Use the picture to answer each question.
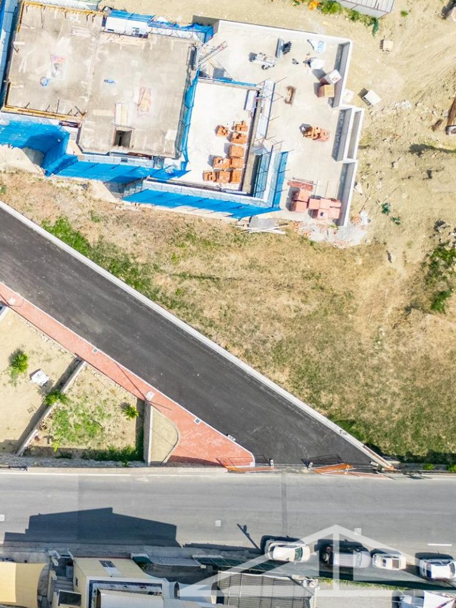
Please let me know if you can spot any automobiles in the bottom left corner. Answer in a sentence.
No, there's no automobile to be seen in the bottom left corner.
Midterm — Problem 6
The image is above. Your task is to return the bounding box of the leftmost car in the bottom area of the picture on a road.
[261,539,309,564]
